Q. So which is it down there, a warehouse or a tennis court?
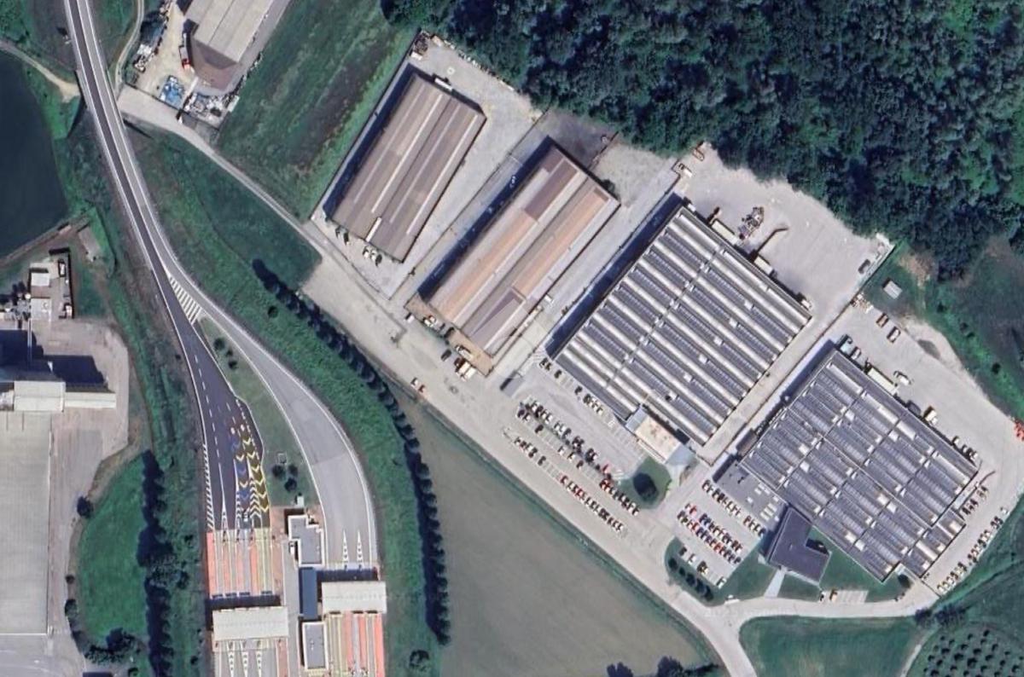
warehouse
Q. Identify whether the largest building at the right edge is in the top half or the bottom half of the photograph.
bottom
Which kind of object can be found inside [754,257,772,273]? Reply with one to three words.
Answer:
vehicle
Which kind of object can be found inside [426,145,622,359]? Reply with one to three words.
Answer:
warehouse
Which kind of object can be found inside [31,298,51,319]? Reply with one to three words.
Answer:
shed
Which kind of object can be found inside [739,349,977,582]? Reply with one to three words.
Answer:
building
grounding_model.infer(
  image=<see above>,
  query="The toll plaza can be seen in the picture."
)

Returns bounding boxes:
[207,511,387,677]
